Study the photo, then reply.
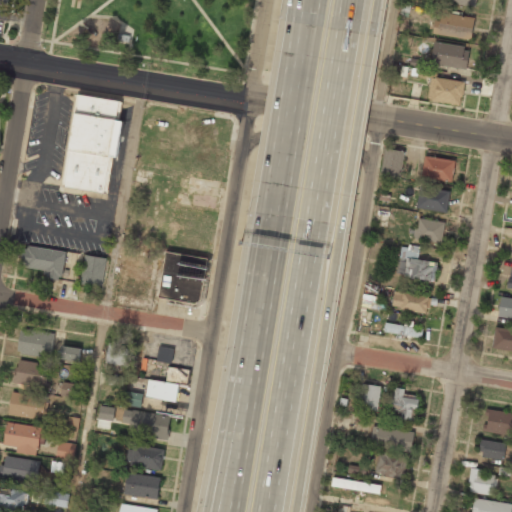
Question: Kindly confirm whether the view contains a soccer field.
No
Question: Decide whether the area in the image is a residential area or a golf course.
residential area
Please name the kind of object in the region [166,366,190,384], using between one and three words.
building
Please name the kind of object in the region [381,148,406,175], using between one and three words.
house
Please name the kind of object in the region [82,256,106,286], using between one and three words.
house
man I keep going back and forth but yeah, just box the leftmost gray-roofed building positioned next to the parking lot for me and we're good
[24,246,66,282]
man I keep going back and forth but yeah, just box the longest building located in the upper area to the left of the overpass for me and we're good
[62,95,123,200]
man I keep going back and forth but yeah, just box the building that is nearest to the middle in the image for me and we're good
[159,250,209,302]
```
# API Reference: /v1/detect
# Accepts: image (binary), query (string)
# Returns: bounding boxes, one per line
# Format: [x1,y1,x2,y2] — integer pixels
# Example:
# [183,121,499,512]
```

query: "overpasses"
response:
[258,83,375,148]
